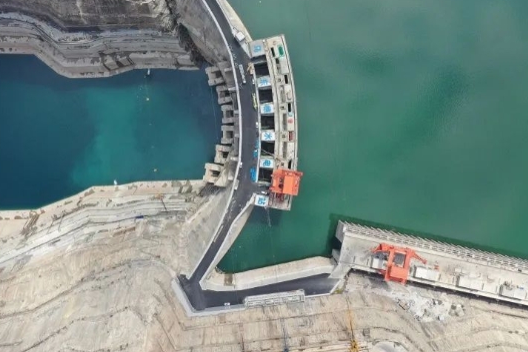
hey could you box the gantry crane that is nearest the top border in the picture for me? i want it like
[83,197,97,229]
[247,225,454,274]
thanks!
[269,165,305,195]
